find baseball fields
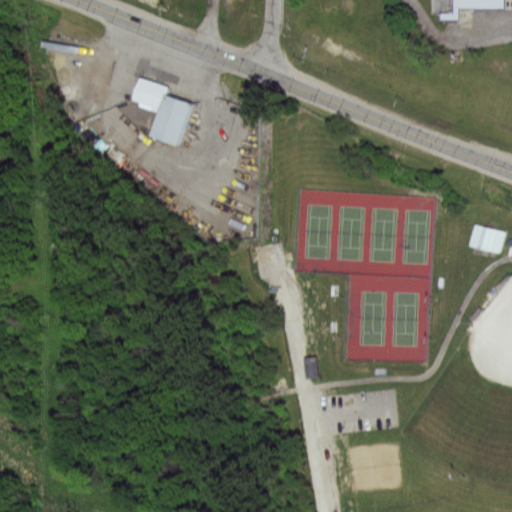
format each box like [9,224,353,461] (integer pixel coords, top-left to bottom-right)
[400,274,512,485]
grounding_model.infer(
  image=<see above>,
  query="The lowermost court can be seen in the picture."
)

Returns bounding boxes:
[350,444,402,490]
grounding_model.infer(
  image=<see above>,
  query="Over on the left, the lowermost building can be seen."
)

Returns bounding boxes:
[150,96,194,146]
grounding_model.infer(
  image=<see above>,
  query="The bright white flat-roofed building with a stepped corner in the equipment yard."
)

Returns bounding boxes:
[132,76,170,113]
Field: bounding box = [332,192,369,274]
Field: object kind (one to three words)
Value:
tennis court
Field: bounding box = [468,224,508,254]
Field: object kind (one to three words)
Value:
shed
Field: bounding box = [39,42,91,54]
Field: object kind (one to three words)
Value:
vehicle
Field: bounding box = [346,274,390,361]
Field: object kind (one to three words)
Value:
tennis court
